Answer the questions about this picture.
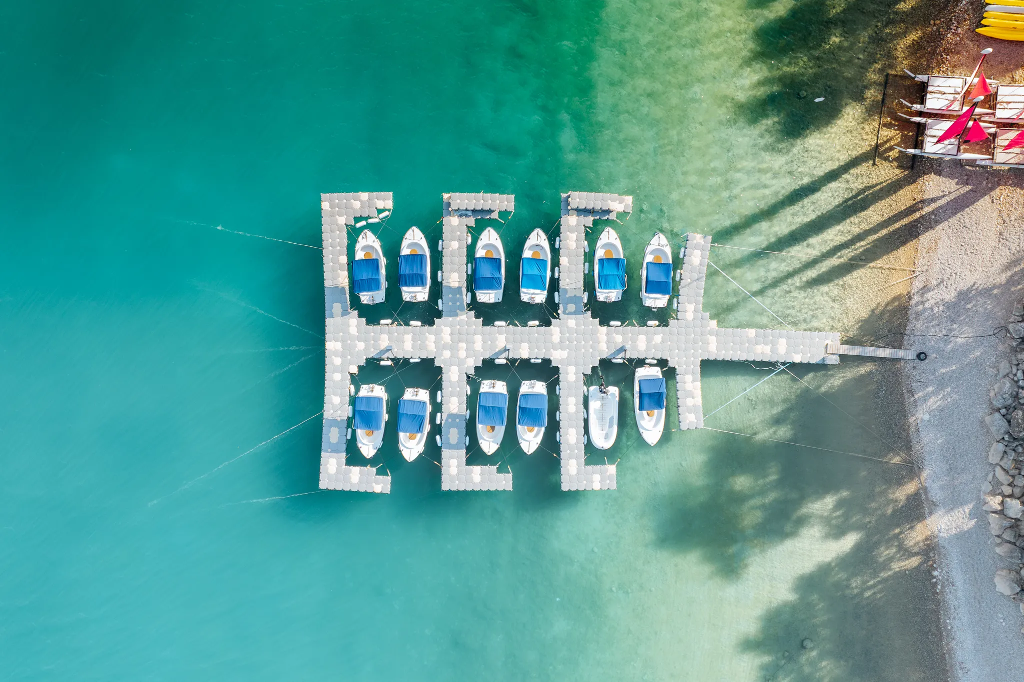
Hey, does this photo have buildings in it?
No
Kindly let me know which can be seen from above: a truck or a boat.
boat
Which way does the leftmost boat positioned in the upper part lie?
vertically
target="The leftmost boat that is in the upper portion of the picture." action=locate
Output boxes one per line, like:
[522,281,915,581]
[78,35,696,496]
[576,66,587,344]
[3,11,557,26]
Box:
[353,228,387,305]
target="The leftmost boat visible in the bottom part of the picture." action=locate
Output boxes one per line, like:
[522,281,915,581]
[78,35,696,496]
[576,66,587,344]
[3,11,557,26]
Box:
[355,383,388,459]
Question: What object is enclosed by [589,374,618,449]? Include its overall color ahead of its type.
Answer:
white boat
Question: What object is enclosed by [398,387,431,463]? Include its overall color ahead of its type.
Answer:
white boat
